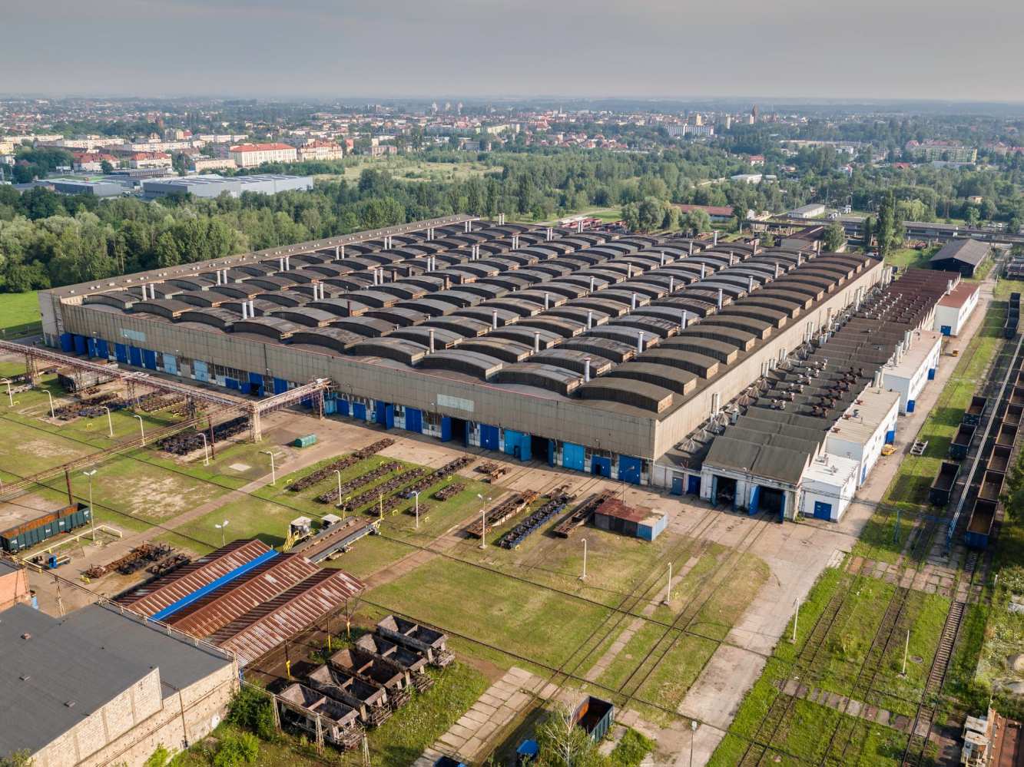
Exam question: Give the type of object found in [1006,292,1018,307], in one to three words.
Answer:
rail car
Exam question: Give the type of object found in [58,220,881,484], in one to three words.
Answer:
building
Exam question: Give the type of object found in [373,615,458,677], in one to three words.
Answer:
rail car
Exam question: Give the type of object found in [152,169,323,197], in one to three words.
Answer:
building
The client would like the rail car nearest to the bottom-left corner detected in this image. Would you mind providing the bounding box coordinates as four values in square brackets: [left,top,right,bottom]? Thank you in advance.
[0,503,98,559]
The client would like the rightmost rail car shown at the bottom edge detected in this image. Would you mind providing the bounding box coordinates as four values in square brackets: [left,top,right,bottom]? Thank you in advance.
[548,693,615,755]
